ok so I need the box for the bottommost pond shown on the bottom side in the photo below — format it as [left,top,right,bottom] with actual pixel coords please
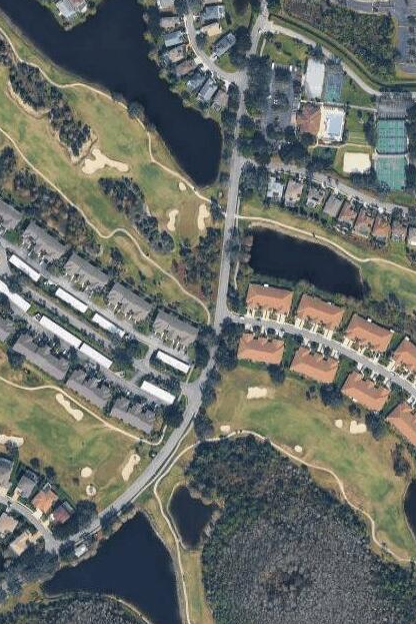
[170,486,219,549]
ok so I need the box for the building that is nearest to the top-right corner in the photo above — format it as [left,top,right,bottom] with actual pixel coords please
[292,104,321,133]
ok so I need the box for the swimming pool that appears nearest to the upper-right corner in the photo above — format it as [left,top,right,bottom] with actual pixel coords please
[317,104,345,142]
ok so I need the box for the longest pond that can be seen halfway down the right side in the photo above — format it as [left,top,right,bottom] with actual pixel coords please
[248,229,364,297]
